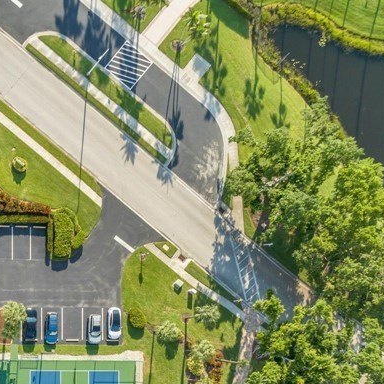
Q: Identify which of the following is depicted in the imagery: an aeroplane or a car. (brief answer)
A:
car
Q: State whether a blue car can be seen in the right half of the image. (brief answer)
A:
No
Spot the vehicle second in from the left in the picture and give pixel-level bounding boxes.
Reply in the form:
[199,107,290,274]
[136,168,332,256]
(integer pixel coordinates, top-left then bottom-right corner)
[44,312,60,345]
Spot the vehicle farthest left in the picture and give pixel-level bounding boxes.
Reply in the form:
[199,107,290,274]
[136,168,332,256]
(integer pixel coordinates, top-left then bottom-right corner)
[23,308,40,341]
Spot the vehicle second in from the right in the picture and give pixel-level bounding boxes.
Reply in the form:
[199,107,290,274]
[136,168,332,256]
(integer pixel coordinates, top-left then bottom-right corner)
[86,314,103,345]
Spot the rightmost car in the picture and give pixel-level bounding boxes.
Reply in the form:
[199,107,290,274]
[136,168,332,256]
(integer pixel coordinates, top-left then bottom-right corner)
[105,307,122,339]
